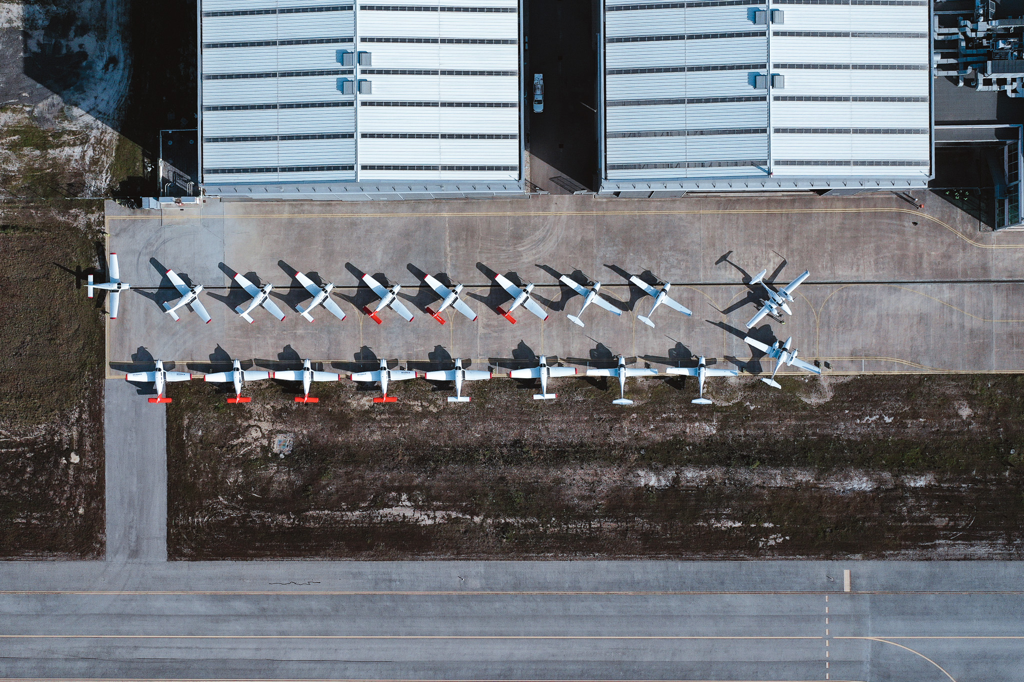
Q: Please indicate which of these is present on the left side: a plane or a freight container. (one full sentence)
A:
What appears on the left side is a plane.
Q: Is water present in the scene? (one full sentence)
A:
No, the picture contains no water.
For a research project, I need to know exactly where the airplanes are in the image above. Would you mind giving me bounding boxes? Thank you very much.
[85,253,133,318]
[495,275,547,324]
[233,274,284,323]
[630,275,692,328]
[351,357,417,402]
[667,355,739,403]
[426,357,491,402]
[162,270,210,324]
[424,275,476,325]
[294,273,345,323]
[274,357,339,403]
[204,358,270,403]
[511,354,576,399]
[746,337,821,389]
[560,275,622,327]
[747,268,809,326]
[126,358,191,403]
[587,356,659,404]
[361,275,413,325]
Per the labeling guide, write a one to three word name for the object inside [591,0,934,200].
hangar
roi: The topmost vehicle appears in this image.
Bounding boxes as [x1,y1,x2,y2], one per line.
[532,72,545,112]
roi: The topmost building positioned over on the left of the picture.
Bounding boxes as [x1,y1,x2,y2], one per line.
[196,0,530,203]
